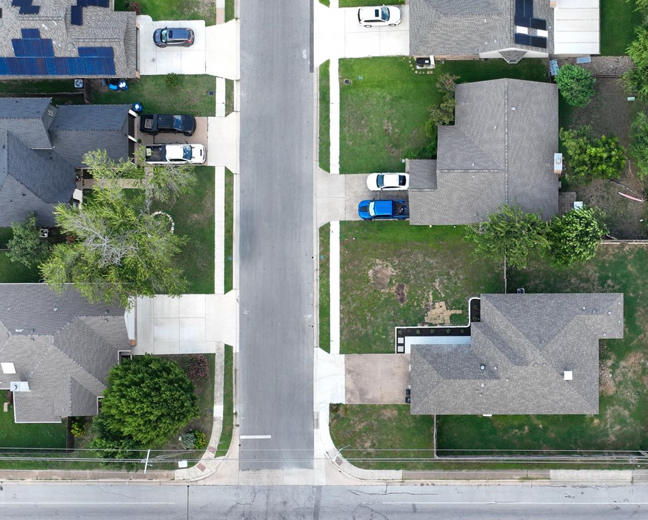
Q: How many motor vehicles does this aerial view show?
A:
six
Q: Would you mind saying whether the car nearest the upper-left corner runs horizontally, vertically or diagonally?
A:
horizontally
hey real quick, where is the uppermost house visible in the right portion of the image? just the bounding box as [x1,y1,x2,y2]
[410,0,557,64]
